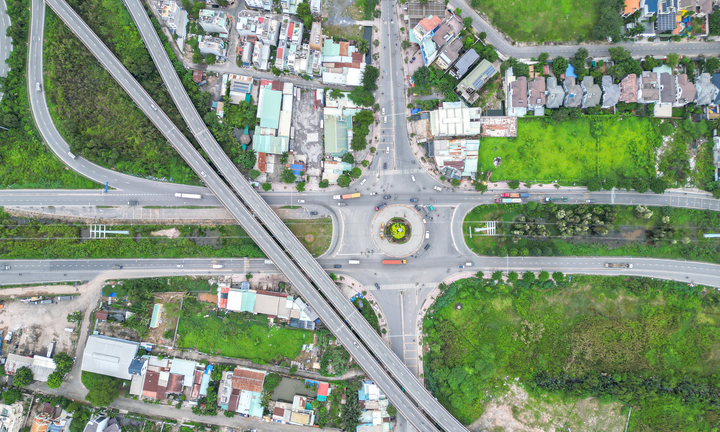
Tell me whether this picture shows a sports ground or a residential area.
residential area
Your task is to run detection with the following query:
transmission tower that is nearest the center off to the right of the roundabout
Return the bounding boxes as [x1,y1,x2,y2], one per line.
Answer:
[473,221,496,235]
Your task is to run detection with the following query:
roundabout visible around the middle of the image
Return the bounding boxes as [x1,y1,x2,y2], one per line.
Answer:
[372,205,425,257]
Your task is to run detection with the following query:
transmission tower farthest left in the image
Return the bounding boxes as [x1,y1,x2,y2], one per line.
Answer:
[90,224,131,238]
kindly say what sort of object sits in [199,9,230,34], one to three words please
house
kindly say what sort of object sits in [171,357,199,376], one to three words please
shed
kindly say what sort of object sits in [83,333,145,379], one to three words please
building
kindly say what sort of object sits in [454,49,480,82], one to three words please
house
